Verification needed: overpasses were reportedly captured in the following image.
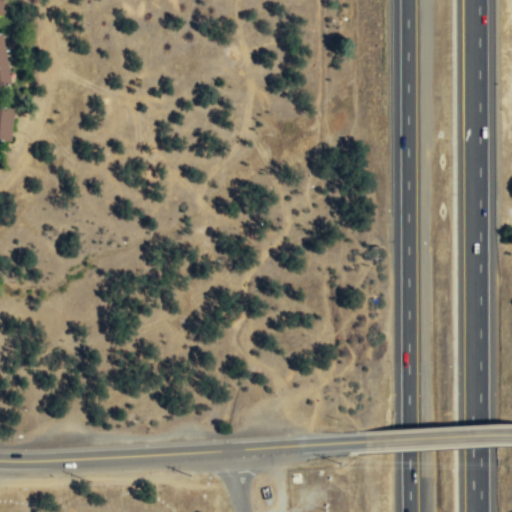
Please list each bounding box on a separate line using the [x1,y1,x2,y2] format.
[349,424,512,454]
